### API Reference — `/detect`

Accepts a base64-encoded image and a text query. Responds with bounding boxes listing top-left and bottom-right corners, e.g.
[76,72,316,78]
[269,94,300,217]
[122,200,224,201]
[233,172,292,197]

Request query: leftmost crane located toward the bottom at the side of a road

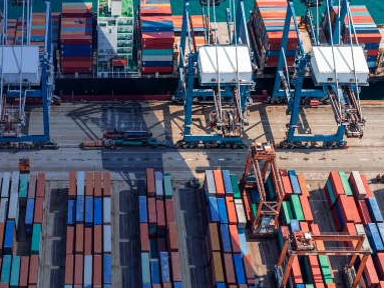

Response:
[245,148,283,233]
